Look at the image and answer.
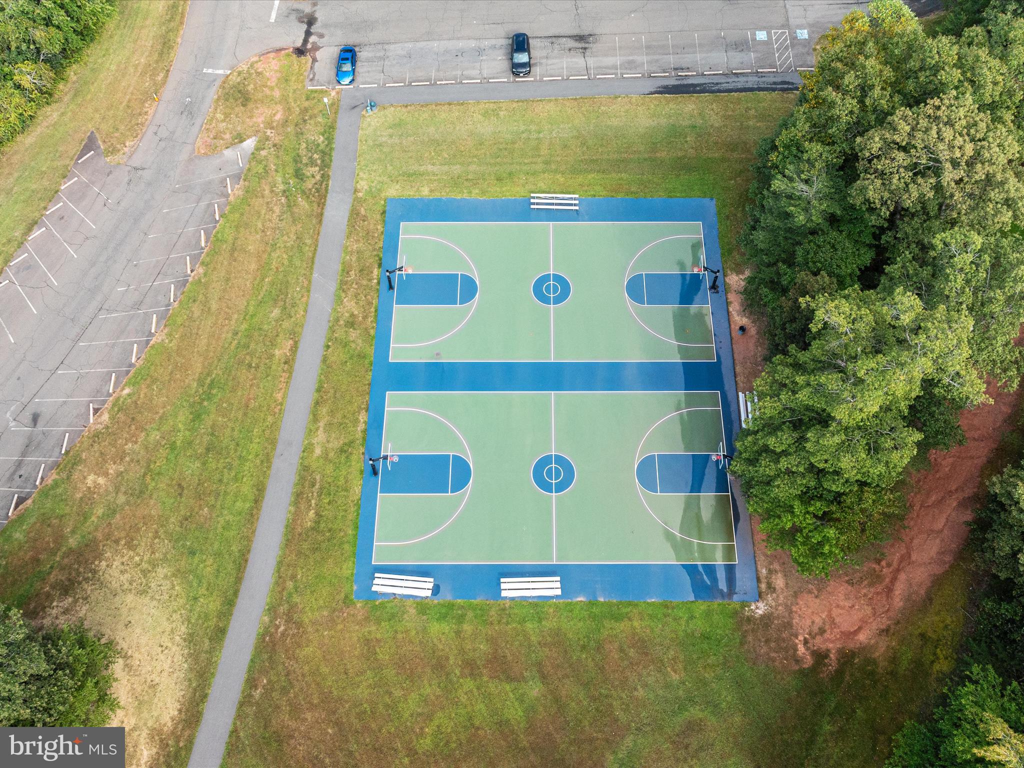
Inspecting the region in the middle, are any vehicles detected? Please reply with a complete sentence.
No, there's no vehicle to be seen in the middle.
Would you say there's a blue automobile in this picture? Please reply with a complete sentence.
Yes, a blue automobile appears in the view.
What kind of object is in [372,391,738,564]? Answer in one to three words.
basketball court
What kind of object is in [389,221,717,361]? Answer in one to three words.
basketball court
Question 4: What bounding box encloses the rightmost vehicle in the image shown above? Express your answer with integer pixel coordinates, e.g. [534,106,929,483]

[511,33,531,75]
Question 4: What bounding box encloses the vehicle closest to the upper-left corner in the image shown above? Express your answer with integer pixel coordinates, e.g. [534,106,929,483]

[336,49,357,84]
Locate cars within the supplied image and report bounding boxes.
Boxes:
[336,49,357,84]
[511,33,531,75]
